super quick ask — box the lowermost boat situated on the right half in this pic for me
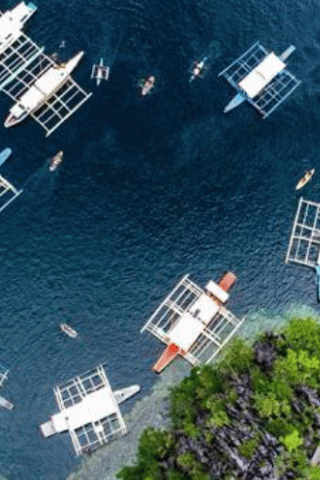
[141,272,245,373]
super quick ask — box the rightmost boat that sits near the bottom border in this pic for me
[39,363,140,458]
